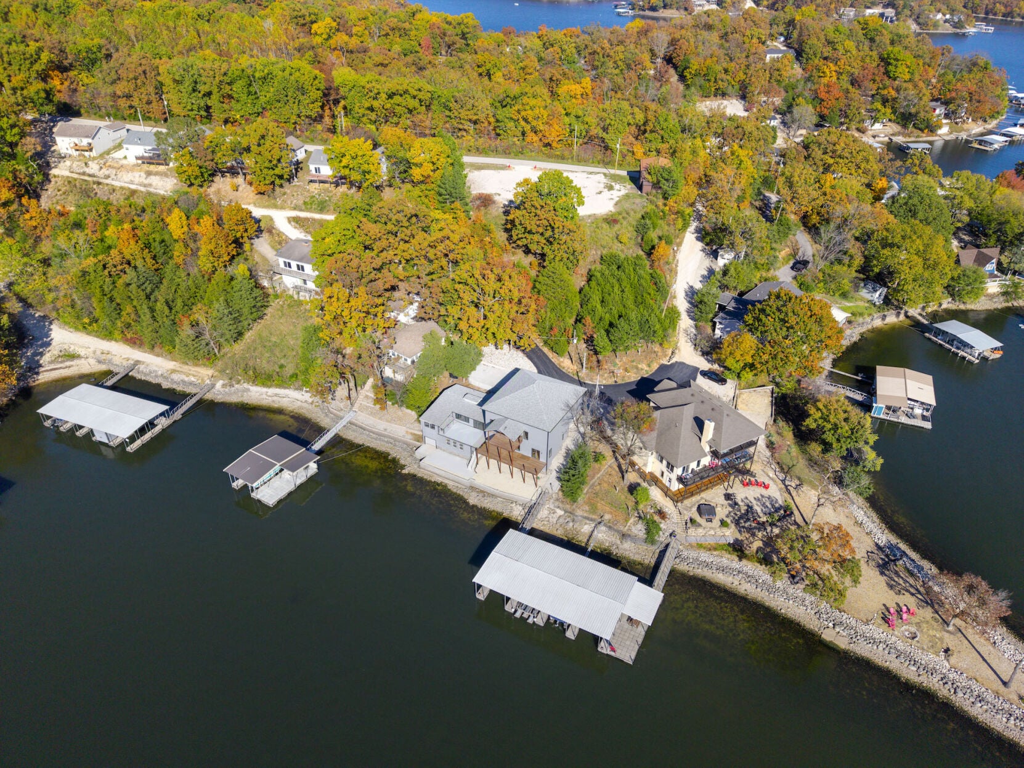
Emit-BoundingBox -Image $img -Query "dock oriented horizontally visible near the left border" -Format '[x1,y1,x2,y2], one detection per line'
[37,383,191,456]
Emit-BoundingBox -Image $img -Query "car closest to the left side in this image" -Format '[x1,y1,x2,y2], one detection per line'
[699,367,730,383]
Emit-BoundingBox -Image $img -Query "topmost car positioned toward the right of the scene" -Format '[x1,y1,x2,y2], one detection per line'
[791,258,811,270]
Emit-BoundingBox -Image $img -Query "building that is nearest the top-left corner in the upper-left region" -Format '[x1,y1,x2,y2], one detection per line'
[51,119,133,158]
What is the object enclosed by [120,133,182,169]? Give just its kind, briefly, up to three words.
house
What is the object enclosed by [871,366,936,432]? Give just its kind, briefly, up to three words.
pier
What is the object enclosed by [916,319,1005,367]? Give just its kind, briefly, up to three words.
pier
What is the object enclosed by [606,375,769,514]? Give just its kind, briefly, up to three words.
house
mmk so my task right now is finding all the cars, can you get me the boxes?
[791,258,811,270]
[699,367,730,383]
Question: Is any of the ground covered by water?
Yes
